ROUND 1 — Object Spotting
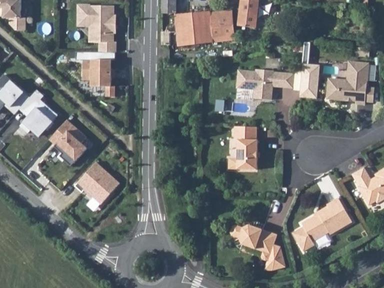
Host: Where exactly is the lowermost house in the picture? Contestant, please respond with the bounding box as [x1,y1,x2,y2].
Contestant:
[232,224,286,272]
